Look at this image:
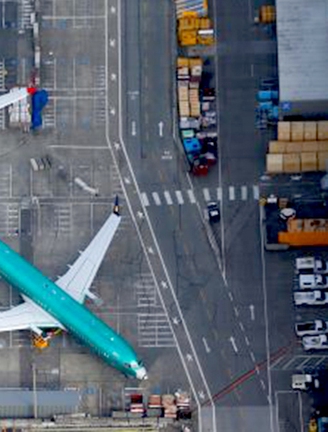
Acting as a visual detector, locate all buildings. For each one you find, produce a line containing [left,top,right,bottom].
[278,0,328,123]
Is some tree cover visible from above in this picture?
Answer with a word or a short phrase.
No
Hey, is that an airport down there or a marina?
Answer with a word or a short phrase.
airport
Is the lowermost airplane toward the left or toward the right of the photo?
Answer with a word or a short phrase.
left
